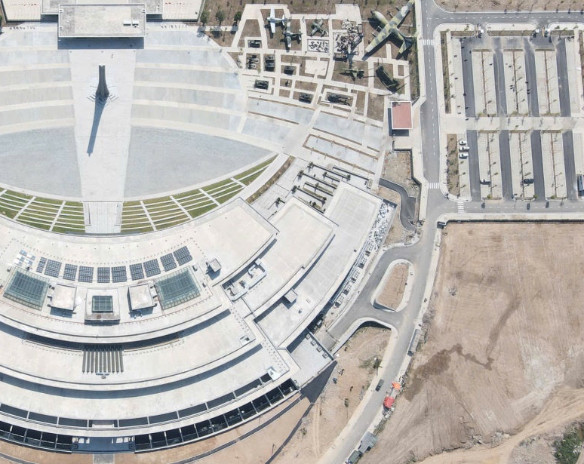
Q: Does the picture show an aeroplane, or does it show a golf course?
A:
aeroplane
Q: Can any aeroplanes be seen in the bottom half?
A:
No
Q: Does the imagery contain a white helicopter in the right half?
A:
No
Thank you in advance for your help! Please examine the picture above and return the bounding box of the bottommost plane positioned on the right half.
[343,62,365,79]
